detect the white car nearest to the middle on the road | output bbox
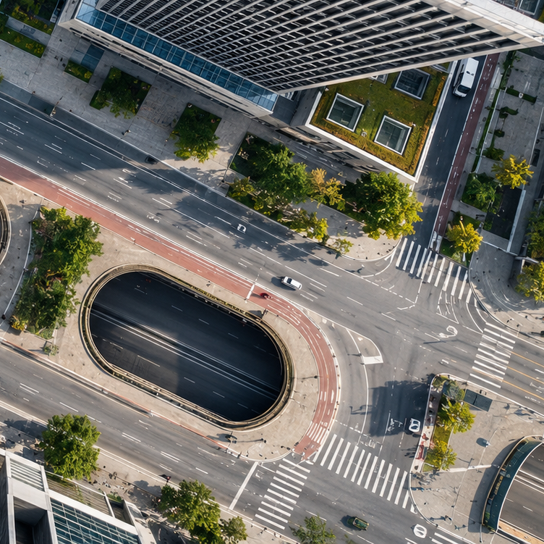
[281,275,301,290]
